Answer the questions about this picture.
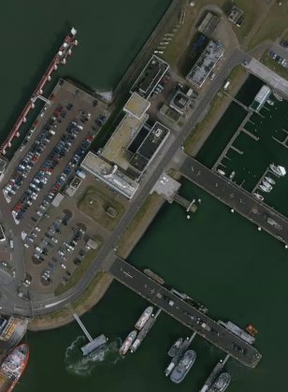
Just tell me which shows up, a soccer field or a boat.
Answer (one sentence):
Of the two, only a boat appears.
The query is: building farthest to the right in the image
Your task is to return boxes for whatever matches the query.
[249,85,272,112]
